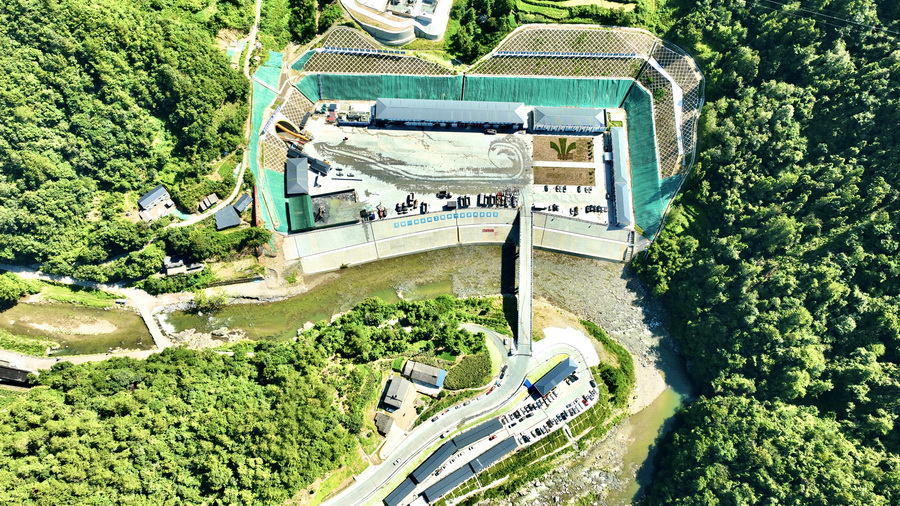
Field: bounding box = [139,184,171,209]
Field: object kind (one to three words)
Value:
house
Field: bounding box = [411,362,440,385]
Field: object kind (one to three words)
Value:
house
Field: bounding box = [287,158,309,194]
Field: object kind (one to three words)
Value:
building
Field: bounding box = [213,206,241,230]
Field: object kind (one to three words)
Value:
barn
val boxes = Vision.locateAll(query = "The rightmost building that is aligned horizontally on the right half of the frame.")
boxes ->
[533,107,606,131]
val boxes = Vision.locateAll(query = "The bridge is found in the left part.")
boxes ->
[134,297,171,351]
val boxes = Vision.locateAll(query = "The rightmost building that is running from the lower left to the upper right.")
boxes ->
[534,357,577,395]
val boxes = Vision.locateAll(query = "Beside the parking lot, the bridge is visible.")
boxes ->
[518,205,534,351]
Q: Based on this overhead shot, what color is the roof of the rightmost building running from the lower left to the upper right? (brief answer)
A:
blue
